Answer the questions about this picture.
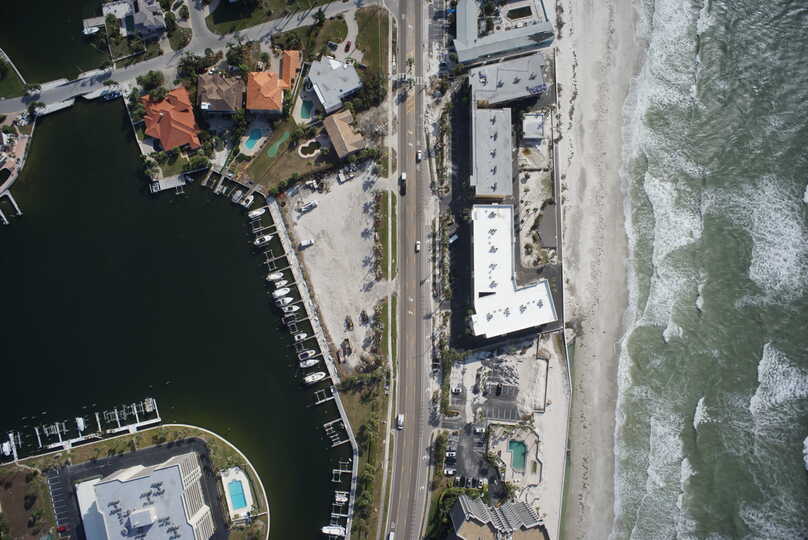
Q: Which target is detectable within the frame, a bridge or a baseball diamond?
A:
bridge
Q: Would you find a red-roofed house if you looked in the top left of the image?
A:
Yes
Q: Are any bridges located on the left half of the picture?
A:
Yes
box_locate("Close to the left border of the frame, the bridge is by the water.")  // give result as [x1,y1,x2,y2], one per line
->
[39,68,112,112]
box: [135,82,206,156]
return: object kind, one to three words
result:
house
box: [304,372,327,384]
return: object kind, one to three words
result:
boat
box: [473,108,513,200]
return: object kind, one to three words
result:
building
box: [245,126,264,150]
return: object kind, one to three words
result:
swimming pool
